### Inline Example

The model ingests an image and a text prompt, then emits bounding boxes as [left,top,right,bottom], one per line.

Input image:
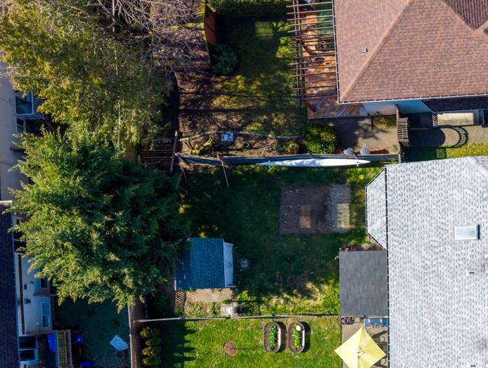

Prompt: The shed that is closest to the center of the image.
[174,236,236,290]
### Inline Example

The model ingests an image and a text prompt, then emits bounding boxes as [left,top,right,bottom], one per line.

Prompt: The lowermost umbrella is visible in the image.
[334,327,385,368]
